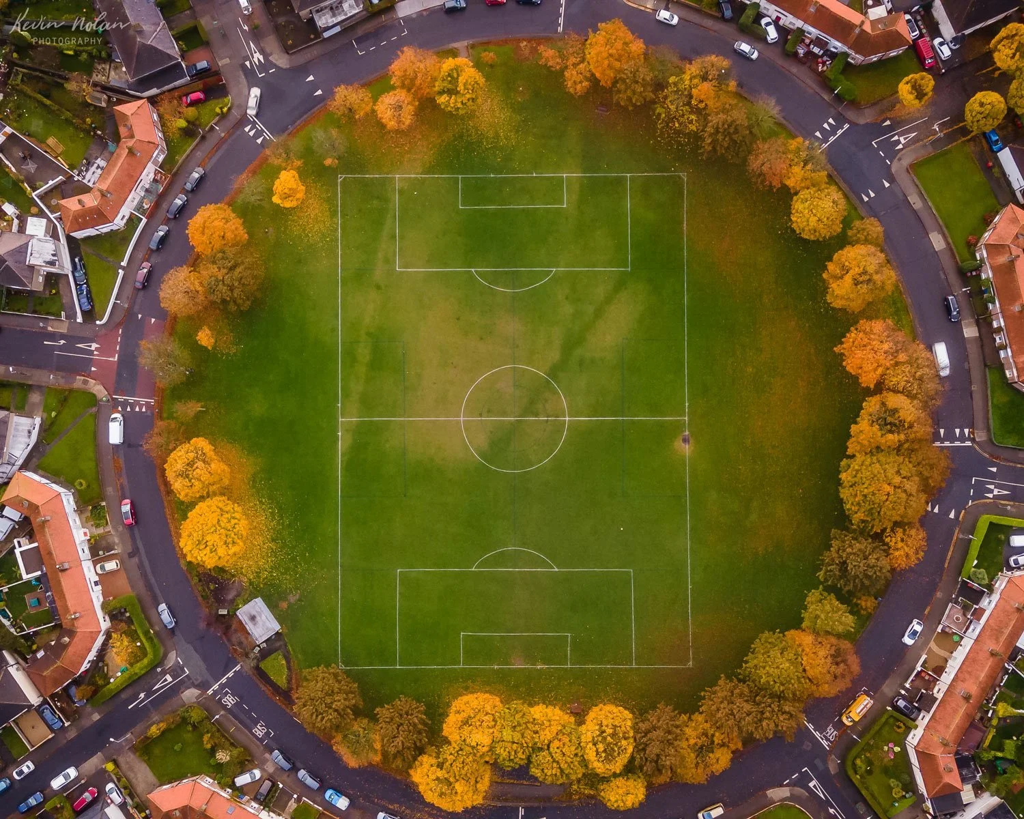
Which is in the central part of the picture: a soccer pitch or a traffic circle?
soccer pitch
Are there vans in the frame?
Yes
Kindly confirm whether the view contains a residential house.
Yes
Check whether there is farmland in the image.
No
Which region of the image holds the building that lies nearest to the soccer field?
bottom left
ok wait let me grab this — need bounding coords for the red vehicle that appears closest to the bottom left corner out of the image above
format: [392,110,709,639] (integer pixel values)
[73,785,100,813]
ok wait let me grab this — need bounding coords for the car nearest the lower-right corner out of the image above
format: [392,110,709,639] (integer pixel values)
[892,695,922,722]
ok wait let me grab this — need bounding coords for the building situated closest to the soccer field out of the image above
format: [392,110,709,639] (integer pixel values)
[236,596,284,644]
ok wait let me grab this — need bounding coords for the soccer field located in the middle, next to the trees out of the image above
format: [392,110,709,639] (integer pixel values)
[338,172,692,668]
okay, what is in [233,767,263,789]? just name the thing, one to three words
car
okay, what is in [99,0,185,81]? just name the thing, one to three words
house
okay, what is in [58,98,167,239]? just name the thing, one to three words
house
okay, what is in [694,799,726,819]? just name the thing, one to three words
vehicle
